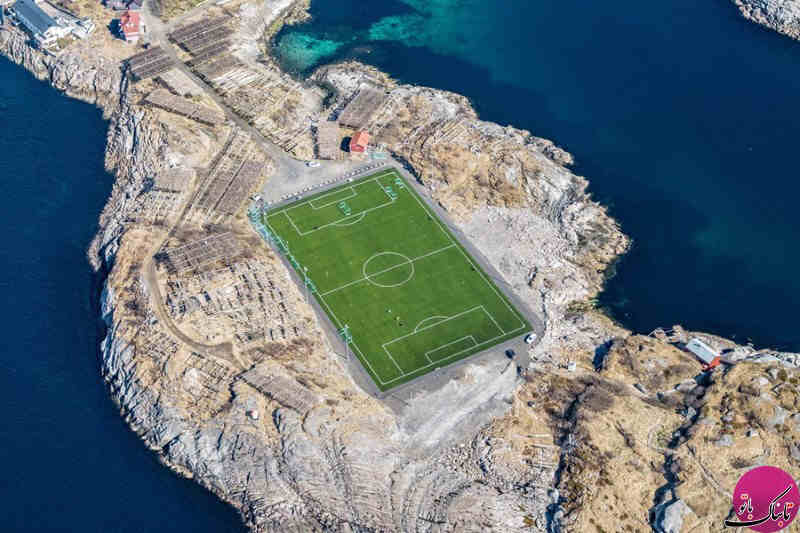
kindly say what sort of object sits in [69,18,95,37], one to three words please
building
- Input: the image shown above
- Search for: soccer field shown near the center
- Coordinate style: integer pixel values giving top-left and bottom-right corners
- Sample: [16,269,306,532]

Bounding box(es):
[261,166,532,391]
